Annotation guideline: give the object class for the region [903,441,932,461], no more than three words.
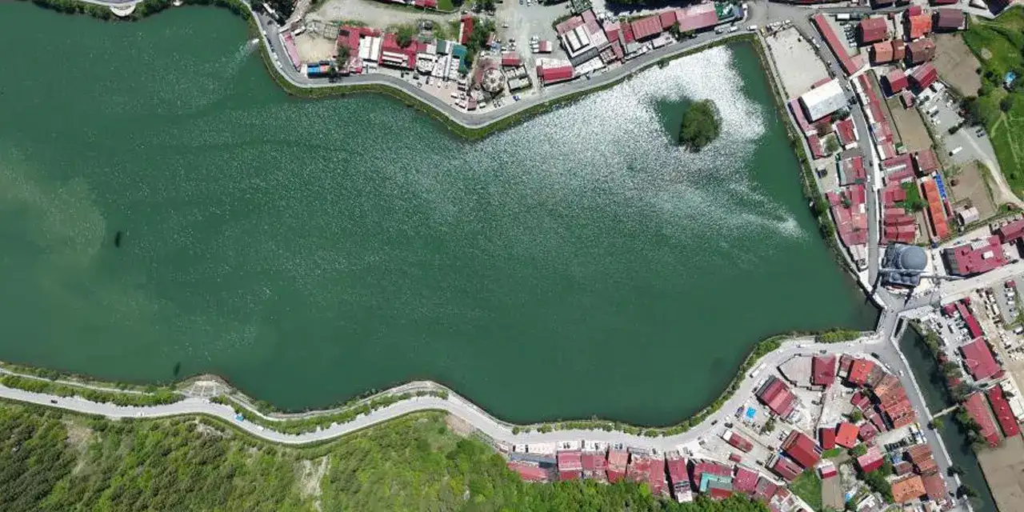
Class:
building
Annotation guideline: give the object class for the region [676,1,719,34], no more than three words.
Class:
building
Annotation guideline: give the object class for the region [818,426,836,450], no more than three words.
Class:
house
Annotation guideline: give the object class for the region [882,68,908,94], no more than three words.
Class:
house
